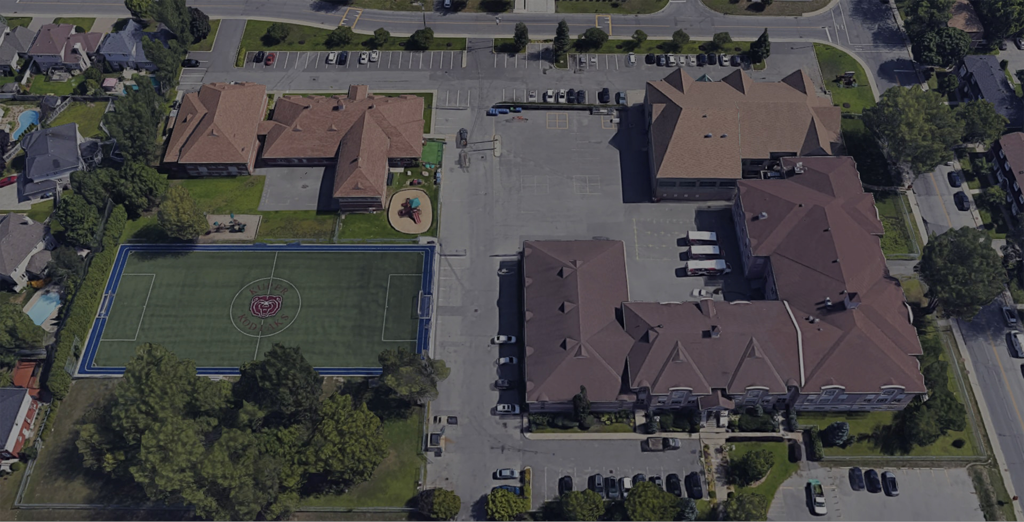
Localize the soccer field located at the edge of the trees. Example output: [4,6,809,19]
[92,251,424,367]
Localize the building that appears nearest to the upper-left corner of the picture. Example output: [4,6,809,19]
[0,23,36,76]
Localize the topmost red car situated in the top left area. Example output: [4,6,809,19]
[264,51,277,66]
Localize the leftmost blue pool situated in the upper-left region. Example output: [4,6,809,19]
[12,109,40,140]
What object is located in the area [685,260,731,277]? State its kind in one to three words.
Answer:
vehicle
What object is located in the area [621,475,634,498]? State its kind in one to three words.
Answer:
vehicle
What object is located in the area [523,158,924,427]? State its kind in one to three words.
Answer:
building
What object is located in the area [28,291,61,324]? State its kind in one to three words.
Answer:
swimming pool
